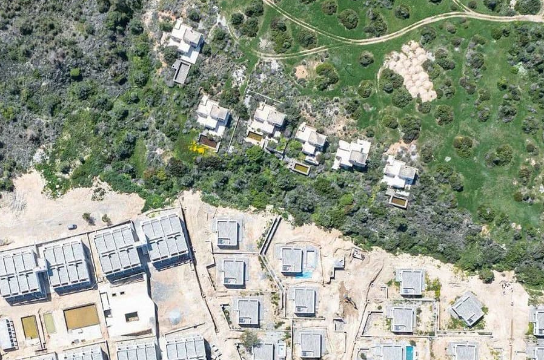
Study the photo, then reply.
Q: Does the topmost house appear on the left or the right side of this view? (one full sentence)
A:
The topmost house appears in the left half of the scene.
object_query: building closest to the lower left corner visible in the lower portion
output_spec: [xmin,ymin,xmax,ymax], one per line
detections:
[0,319,18,350]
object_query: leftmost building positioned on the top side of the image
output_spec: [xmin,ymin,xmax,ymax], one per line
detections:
[169,25,201,68]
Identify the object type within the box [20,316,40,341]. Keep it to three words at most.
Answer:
swimming pool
